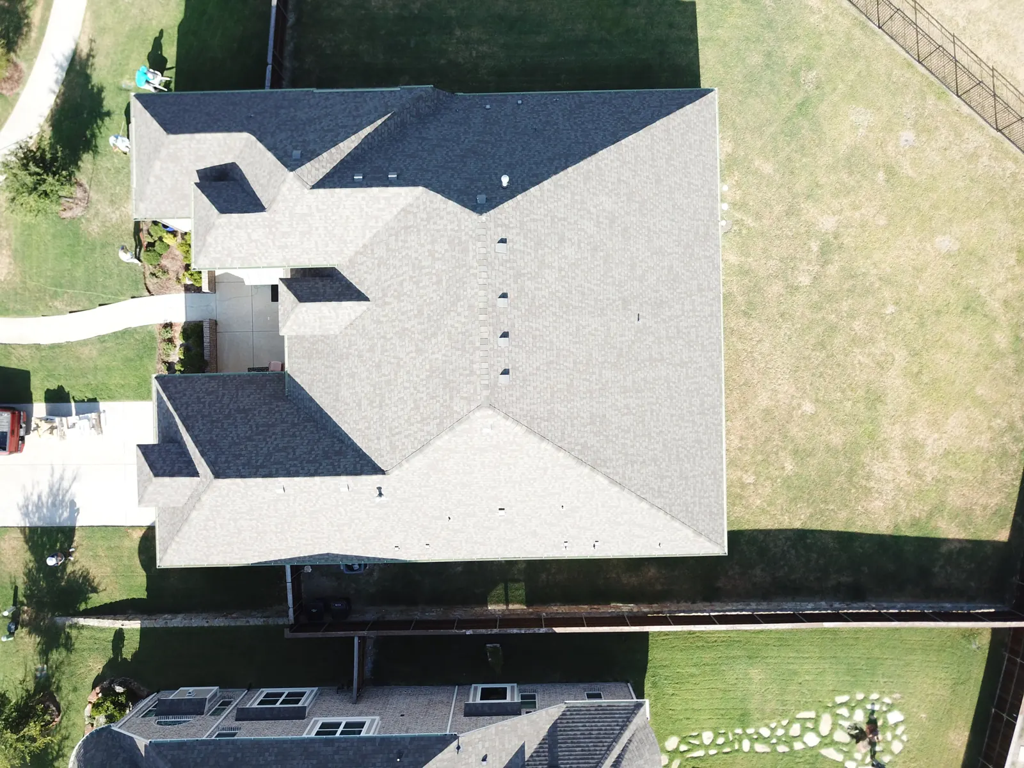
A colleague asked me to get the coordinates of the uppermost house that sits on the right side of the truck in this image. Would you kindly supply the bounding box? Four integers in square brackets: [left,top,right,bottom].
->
[129,82,730,570]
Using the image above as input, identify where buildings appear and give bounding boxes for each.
[129,82,730,570]
[74,681,664,768]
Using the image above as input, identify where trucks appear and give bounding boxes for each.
[0,408,29,454]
